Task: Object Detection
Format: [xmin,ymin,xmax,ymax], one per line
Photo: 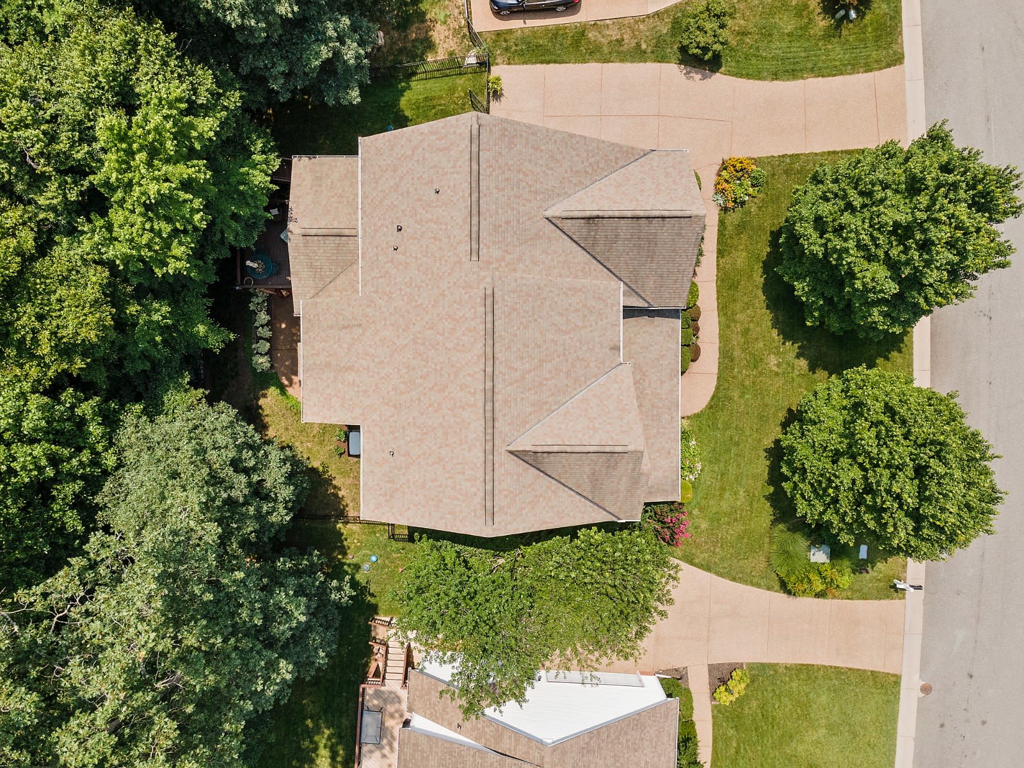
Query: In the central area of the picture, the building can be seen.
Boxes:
[284,112,706,534]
